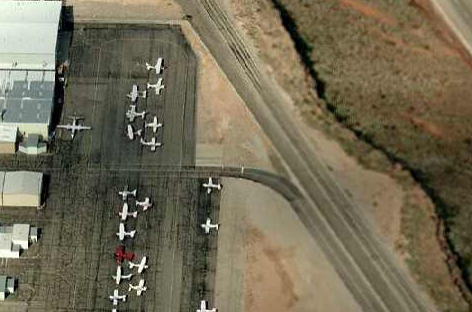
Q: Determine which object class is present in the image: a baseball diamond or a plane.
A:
plane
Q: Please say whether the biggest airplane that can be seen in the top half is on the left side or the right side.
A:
left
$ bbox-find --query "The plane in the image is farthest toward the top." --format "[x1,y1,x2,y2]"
[146,56,164,72]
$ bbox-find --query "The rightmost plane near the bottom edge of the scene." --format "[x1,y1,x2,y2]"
[196,300,217,312]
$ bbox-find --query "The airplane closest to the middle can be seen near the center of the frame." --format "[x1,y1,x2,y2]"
[203,178,223,193]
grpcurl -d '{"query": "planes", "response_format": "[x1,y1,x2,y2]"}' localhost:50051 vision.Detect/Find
[126,107,145,122]
[146,56,164,72]
[132,197,153,212]
[128,254,148,272]
[109,290,130,306]
[142,118,162,132]
[129,84,148,100]
[58,111,91,133]
[146,79,165,93]
[140,137,160,152]
[112,266,132,283]
[115,245,134,262]
[196,300,217,312]
[119,201,140,218]
[126,280,147,296]
[203,178,223,193]
[124,123,145,139]
[118,186,138,201]
[201,219,221,234]
[116,221,136,238]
